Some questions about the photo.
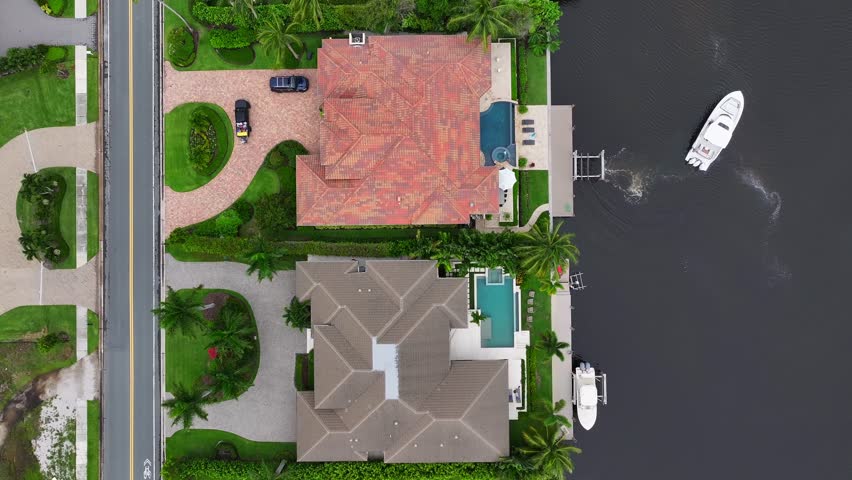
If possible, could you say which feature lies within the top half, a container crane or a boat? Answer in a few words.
boat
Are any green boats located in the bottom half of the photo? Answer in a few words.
No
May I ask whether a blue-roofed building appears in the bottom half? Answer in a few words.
No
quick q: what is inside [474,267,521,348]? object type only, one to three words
swimming pool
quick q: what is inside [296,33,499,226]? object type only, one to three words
house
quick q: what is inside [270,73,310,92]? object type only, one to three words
car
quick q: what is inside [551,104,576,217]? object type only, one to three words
pier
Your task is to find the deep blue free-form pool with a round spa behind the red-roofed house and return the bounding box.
[481,101,518,169]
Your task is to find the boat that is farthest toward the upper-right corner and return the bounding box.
[682,91,743,175]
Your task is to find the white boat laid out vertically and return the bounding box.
[577,362,597,430]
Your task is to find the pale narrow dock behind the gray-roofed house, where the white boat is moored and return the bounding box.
[551,259,575,443]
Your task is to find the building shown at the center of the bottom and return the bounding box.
[296,259,508,462]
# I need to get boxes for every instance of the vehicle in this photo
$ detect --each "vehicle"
[270,73,310,92]
[233,100,252,137]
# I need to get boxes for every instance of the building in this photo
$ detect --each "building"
[296,33,499,226]
[296,259,508,462]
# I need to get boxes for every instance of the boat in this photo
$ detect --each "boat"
[577,362,597,430]
[682,91,743,175]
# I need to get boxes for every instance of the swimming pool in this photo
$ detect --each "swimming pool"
[481,101,518,169]
[474,267,521,348]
